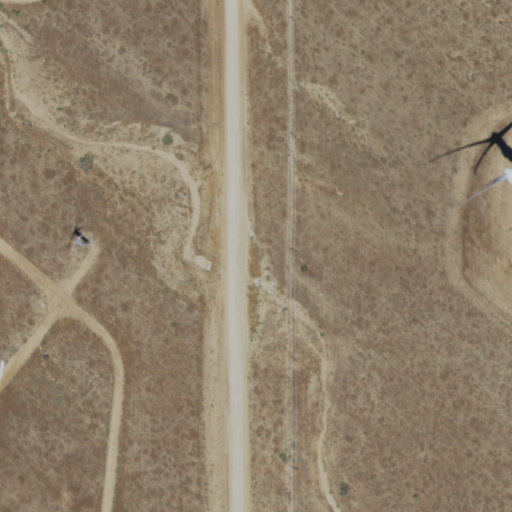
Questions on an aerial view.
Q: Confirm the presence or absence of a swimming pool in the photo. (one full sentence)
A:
No, this view has no swimming pool in it.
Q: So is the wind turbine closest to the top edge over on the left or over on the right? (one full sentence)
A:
The wind turbine closest to the top edge is on the right side of the image.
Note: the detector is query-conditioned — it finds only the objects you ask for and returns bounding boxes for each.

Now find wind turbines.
[70,234,91,256]
[446,170,512,216]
